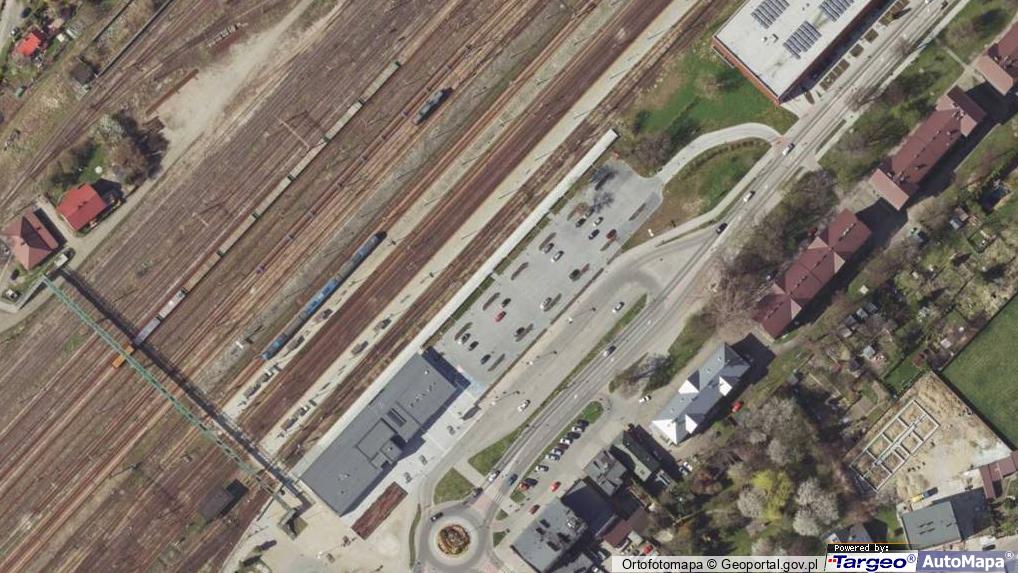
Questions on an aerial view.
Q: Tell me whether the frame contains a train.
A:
Yes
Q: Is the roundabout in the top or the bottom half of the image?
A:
bottom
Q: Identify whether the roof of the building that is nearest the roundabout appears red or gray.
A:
gray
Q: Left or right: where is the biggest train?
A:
left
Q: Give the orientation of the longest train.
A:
on a diagonal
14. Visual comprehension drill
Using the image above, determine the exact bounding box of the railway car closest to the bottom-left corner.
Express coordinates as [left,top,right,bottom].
[110,343,137,369]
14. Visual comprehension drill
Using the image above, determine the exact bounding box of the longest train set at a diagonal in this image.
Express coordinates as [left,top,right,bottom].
[261,232,388,359]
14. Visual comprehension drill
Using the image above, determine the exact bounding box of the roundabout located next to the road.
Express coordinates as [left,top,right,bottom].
[416,501,492,573]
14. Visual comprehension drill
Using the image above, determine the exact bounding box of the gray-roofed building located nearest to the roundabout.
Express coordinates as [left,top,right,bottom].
[510,493,588,573]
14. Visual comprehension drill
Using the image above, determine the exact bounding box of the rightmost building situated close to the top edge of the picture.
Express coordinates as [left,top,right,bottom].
[968,19,1018,96]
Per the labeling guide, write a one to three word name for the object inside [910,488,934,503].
vehicle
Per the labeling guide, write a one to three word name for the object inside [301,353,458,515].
train station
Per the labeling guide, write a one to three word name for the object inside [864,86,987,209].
building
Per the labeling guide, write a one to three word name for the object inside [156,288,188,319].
rail car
